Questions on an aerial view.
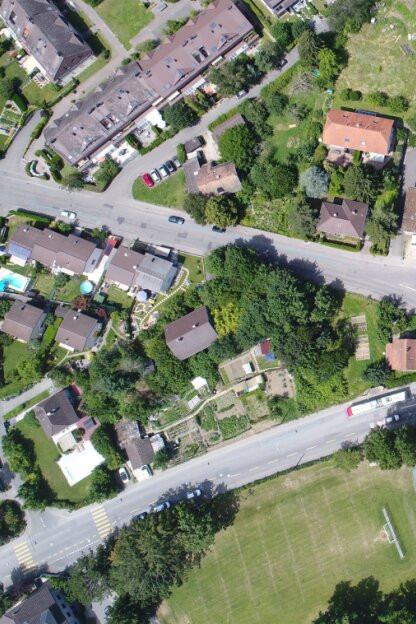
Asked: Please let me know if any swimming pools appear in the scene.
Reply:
Yes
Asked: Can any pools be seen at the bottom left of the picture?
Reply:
Yes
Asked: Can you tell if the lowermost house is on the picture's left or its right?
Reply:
left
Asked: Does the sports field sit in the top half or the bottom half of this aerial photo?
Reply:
bottom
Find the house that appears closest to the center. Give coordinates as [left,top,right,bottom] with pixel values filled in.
[165,307,223,356]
